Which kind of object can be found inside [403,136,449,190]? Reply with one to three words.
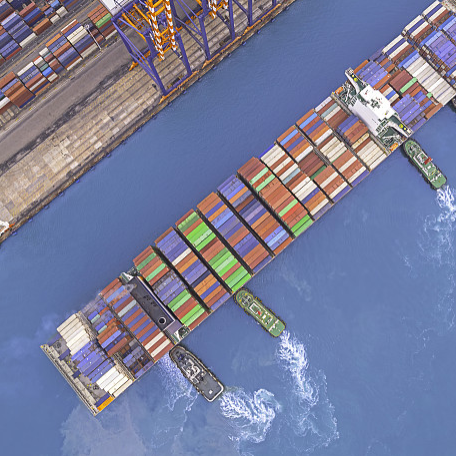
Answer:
boat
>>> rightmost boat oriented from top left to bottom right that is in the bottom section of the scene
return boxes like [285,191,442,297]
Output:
[233,287,287,341]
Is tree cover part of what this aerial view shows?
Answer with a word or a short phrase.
No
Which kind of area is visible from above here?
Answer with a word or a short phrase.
port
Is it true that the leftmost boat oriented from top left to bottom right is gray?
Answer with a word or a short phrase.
Yes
